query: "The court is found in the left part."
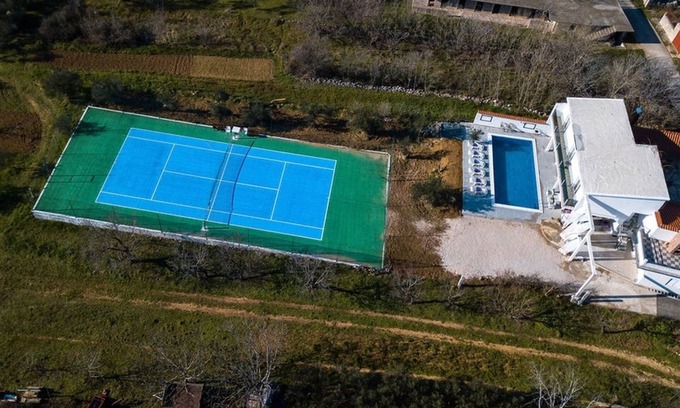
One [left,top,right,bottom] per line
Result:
[31,104,390,270]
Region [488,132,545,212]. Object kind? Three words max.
swimming pool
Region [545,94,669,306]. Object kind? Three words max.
house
